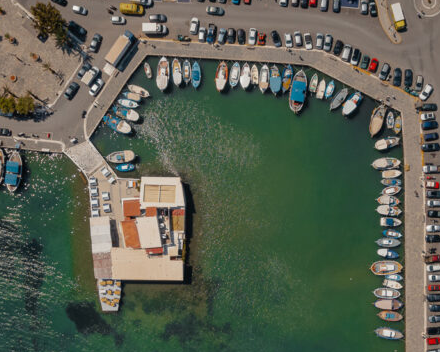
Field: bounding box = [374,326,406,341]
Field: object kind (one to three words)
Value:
boat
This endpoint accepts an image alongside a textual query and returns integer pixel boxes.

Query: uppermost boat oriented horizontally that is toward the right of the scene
[375,137,404,150]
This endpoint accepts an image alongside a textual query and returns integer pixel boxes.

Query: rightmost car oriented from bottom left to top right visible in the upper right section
[419,84,434,101]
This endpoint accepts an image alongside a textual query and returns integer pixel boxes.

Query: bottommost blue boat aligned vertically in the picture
[5,148,23,193]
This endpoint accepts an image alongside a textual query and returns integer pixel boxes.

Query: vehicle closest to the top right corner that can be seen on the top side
[390,1,406,33]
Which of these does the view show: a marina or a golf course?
marina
